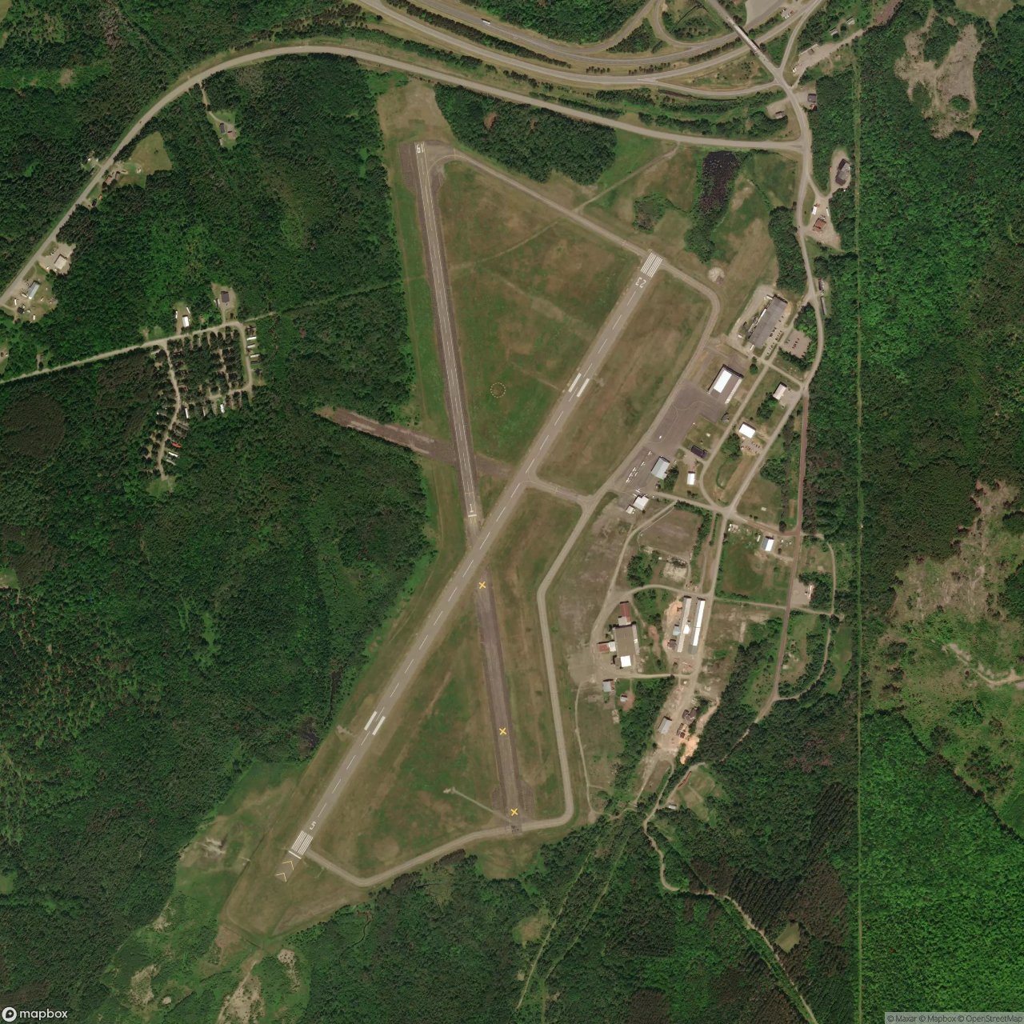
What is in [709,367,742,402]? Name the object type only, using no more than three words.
hangar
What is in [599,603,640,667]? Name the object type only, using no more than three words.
building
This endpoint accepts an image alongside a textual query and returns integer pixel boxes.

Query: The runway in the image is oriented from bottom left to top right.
[272,246,668,886]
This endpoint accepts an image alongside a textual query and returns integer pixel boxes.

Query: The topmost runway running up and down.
[400,141,481,546]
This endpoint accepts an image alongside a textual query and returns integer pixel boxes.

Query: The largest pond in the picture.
[701,151,739,209]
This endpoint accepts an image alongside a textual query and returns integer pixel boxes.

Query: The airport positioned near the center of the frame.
[272,141,749,887]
